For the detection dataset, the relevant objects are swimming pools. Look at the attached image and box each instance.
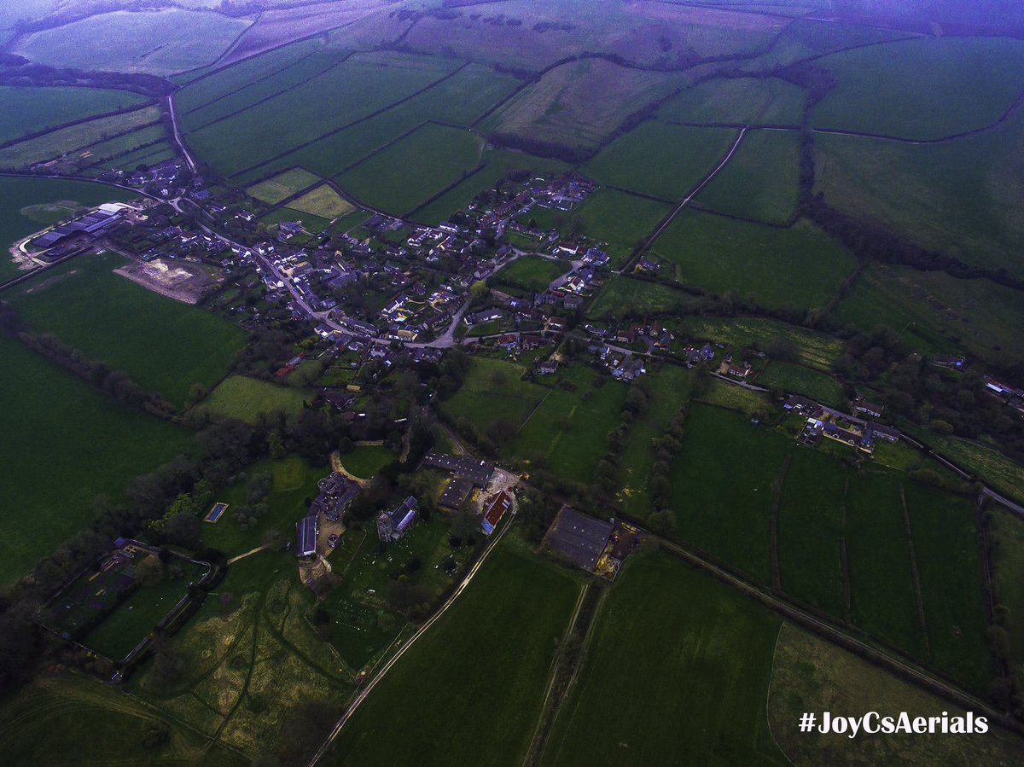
[204,503,228,522]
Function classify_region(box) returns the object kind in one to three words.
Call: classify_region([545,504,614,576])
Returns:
barn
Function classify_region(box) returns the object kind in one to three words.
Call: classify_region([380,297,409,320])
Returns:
house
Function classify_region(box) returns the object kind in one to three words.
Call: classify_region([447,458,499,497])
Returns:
barn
